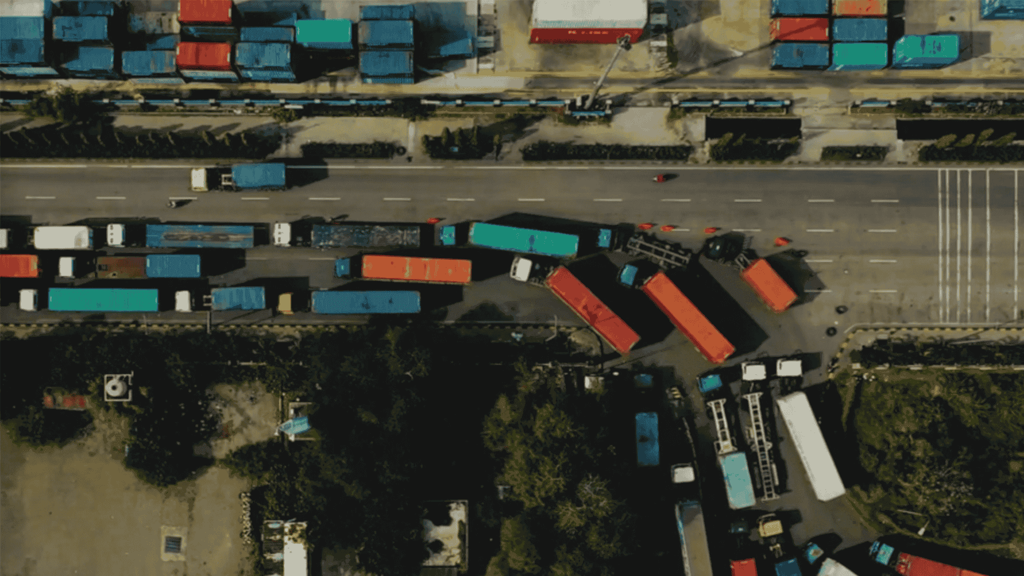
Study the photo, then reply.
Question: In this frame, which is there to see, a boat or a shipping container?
shipping container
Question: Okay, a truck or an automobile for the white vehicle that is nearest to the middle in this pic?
truck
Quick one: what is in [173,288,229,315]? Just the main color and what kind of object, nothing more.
white truck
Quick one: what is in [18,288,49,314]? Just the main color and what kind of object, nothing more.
white truck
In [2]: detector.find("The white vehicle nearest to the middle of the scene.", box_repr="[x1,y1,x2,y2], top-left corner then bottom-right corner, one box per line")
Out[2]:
[506,255,622,356]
